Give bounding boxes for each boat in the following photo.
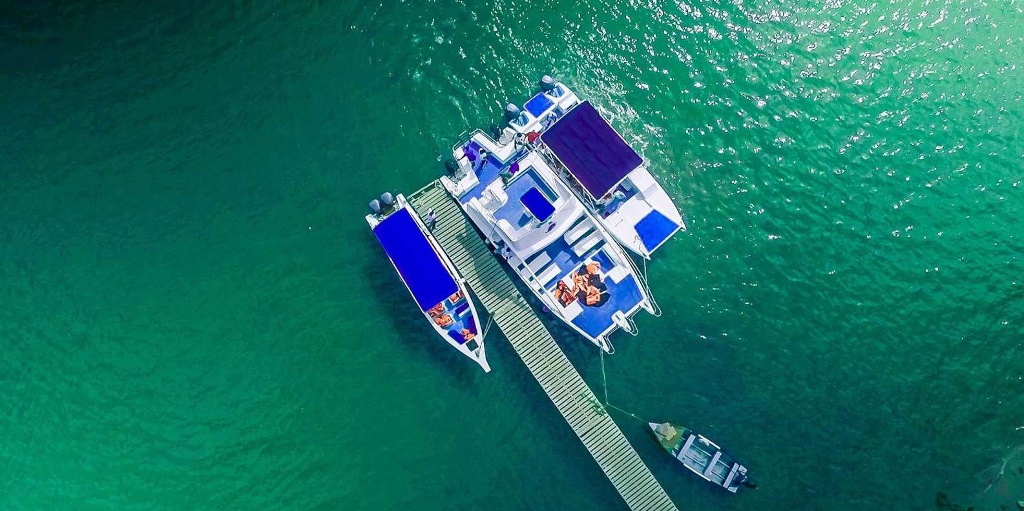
[507,75,685,260]
[649,422,752,492]
[441,126,662,357]
[367,193,490,373]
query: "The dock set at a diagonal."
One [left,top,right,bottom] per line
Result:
[406,178,678,511]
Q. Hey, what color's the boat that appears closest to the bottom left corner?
blue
